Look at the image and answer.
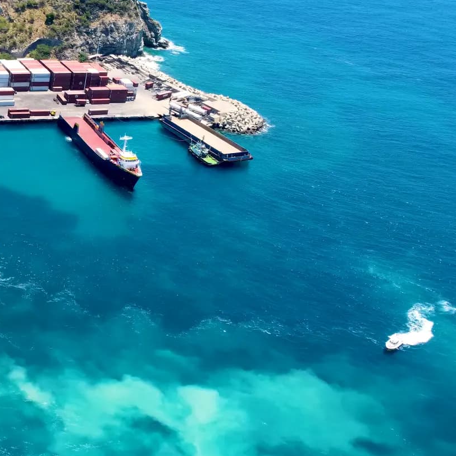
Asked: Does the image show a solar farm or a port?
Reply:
port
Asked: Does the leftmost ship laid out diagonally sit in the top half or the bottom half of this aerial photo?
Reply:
top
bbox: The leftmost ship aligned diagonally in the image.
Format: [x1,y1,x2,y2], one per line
[59,110,147,187]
